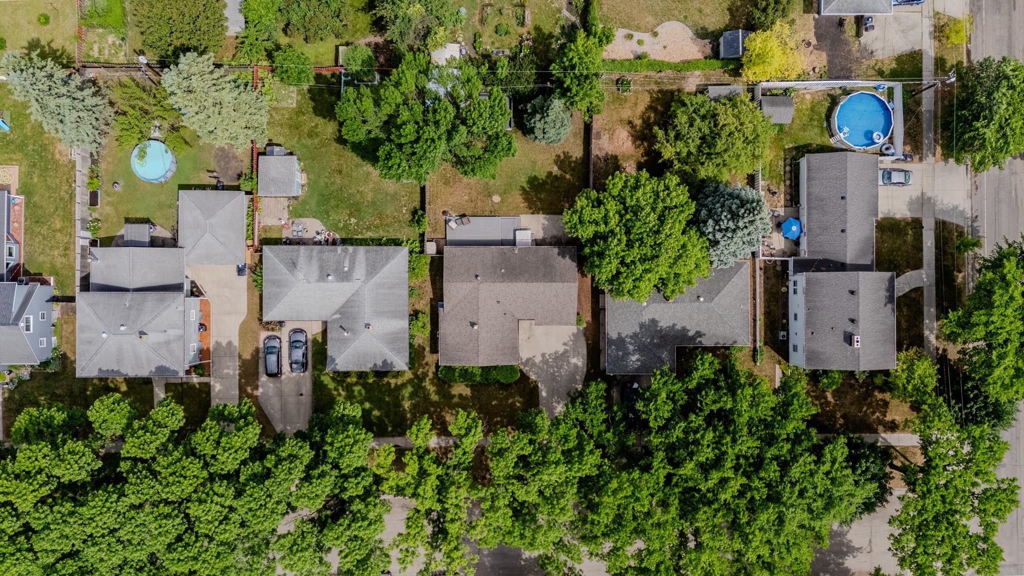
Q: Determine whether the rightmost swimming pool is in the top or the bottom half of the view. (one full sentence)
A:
Seen from above, the rightmost swimming pool lies in the top half of the view.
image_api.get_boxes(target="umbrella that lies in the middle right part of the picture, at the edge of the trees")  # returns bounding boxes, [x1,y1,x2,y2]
[780,217,802,240]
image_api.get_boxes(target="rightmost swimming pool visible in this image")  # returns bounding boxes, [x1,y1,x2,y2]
[829,91,894,152]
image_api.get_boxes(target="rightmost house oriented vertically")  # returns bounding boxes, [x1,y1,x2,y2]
[786,151,896,371]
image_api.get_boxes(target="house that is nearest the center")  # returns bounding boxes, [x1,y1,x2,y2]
[437,246,578,367]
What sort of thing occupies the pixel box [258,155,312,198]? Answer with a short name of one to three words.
shed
